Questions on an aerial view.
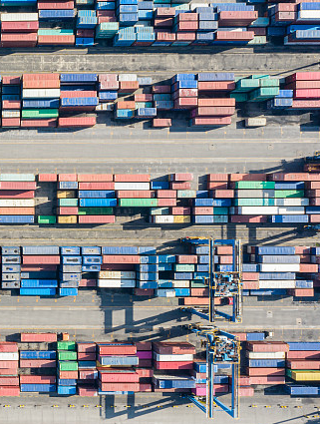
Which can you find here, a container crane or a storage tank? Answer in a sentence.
Looking from above, you can make out a container crane.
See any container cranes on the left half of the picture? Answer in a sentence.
No, looking on the left half of the picture, there is no container crane.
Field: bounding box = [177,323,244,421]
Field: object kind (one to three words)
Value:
container crane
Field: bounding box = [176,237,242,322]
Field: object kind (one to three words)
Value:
container crane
